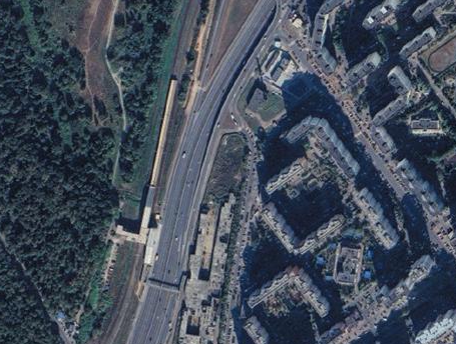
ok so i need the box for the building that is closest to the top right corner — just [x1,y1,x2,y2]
[414,0,452,20]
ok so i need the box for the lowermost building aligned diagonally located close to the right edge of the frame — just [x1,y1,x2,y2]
[416,304,456,344]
